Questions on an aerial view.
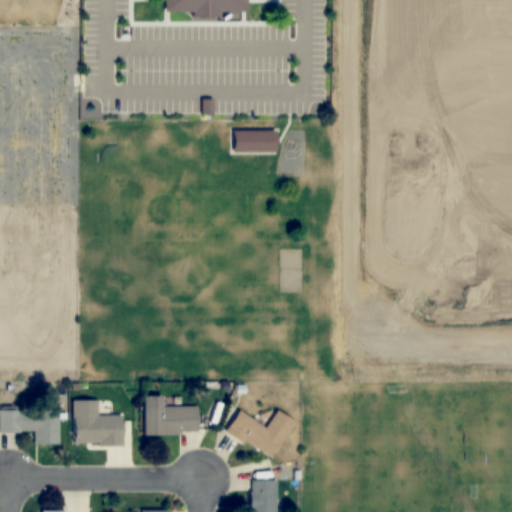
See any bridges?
No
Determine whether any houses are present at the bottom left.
Yes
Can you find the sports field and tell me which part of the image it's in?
bottom right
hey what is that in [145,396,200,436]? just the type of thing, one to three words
house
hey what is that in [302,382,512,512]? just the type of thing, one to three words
sports field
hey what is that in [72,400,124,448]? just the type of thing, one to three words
house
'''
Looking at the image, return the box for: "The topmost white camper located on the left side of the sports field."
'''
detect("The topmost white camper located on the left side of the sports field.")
[210,401,226,426]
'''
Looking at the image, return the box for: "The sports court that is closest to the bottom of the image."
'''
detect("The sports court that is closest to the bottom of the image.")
[280,271,302,292]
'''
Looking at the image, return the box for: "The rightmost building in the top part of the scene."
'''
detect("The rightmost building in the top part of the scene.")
[230,128,280,156]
